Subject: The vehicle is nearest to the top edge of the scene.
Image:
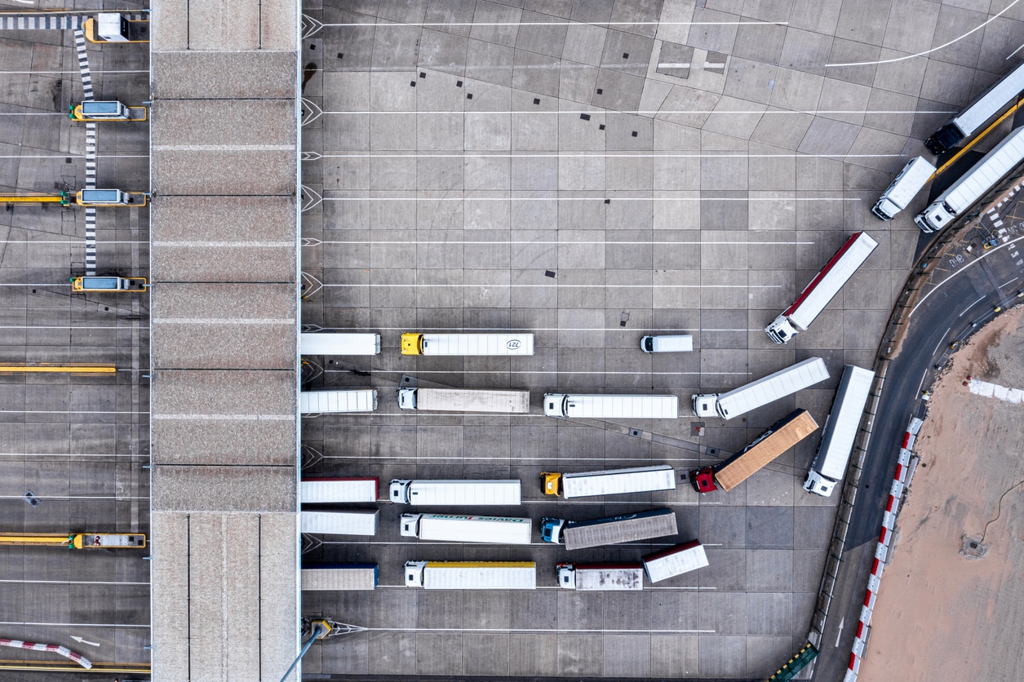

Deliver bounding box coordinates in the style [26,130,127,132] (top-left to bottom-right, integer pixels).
[921,61,1024,155]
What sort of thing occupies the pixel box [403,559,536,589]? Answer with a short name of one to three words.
truck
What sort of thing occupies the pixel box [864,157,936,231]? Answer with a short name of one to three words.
truck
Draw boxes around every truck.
[402,332,534,357]
[300,560,379,590]
[542,394,678,419]
[300,506,379,535]
[541,465,676,499]
[389,478,521,505]
[539,508,678,550]
[764,231,879,345]
[864,157,936,231]
[300,476,381,503]
[691,358,830,420]
[921,61,1024,155]
[800,365,874,500]
[300,334,380,355]
[398,512,532,544]
[300,388,378,413]
[687,408,818,496]
[912,130,1024,232]
[403,559,536,589]
[396,386,530,412]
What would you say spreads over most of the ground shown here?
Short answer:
paved ground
